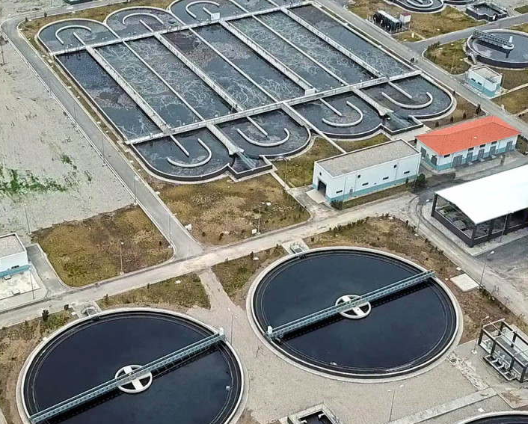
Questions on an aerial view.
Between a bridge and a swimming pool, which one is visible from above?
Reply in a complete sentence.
There is a bridge in the scene.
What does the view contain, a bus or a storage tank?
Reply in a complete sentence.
The image shows a storage tank.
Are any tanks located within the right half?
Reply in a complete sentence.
Yes, the scene does show a tank within the right half.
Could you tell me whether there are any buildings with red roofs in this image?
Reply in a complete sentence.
Yes, this view includes a building with a red roof.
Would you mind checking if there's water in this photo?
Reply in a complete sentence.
Yes, there's water in this view.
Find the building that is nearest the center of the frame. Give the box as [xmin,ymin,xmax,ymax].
[313,139,422,203]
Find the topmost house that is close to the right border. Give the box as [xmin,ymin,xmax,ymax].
[467,67,507,96]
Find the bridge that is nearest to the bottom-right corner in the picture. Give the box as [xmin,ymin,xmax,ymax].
[262,272,438,341]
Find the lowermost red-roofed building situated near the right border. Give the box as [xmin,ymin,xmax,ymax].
[414,116,522,171]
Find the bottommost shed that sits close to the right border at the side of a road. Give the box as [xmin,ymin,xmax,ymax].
[431,166,528,248]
